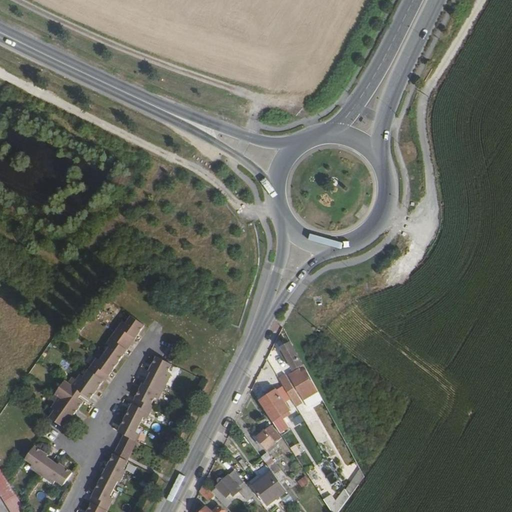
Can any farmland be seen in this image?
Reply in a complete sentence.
Yes, farmland shows up in the scene.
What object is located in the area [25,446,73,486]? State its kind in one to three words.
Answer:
house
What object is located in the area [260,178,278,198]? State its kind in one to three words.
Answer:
vehicle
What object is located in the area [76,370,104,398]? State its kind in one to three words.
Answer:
house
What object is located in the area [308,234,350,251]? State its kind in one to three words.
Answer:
vehicle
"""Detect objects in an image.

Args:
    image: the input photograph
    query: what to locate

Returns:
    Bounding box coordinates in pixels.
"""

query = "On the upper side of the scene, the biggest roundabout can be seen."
[268,126,395,254]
